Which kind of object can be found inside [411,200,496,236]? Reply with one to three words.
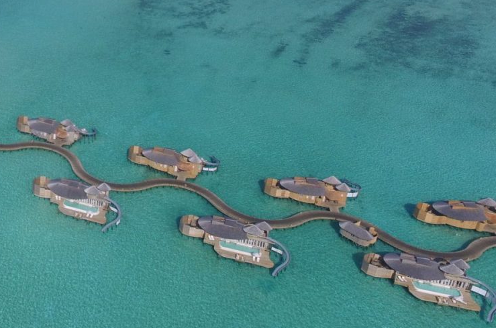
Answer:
house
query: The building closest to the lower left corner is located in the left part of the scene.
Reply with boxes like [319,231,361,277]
[33,177,125,229]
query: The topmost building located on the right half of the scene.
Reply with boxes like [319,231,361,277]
[263,175,363,213]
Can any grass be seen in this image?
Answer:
No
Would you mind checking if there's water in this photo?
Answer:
Yes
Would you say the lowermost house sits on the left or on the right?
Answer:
right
